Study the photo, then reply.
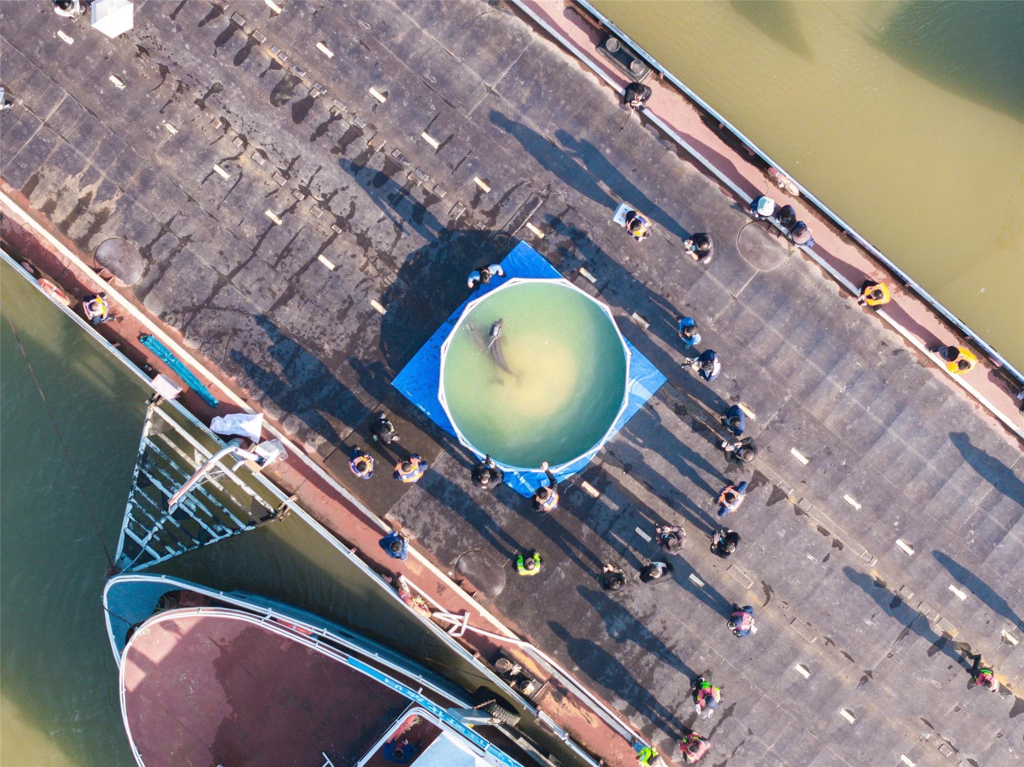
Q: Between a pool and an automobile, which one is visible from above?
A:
pool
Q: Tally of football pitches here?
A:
0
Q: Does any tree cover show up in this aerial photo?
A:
No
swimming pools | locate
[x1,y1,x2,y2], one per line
[437,279,630,472]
